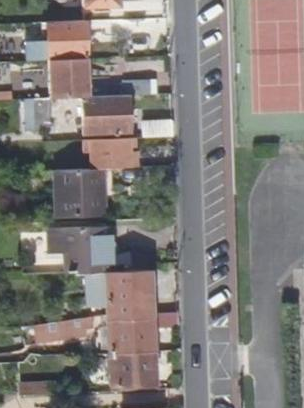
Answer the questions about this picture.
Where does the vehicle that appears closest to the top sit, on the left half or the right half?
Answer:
right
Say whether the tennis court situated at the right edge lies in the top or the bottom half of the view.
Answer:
top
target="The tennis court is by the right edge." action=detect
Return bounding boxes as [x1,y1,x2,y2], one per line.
[236,0,304,148]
